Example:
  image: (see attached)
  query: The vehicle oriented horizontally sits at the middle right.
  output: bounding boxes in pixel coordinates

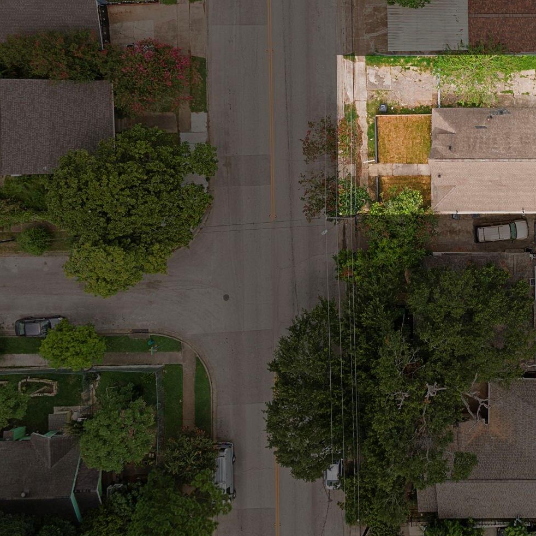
[473,217,529,245]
